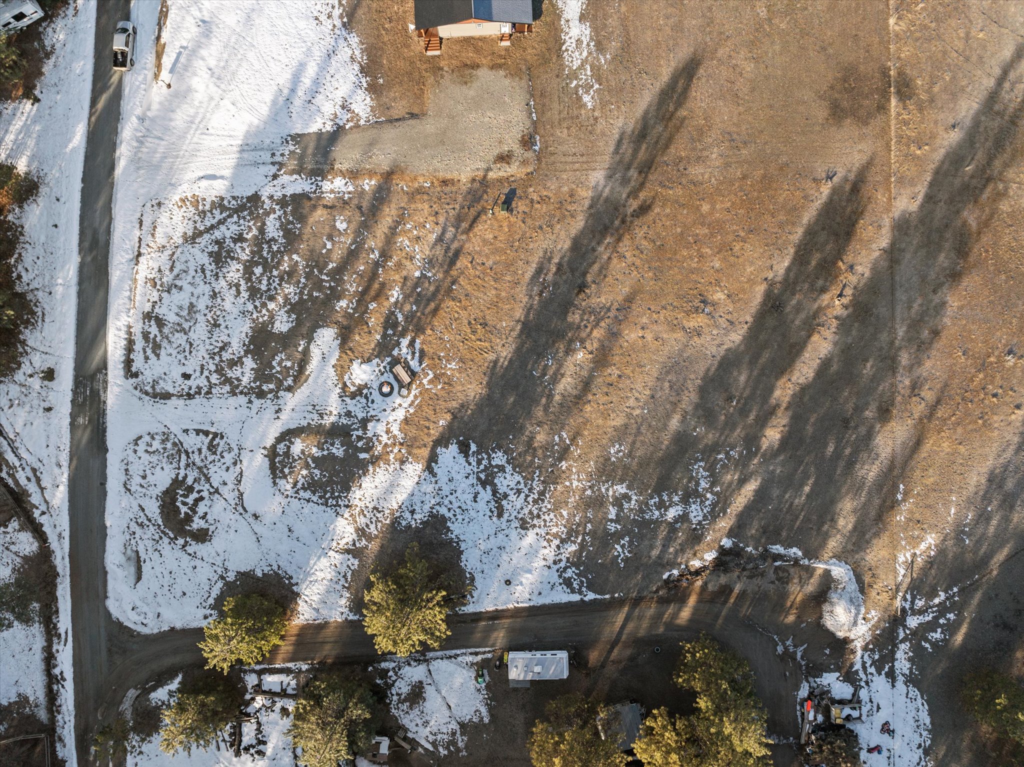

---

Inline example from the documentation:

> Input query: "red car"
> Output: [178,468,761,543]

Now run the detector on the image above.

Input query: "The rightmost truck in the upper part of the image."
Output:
[109,21,135,73]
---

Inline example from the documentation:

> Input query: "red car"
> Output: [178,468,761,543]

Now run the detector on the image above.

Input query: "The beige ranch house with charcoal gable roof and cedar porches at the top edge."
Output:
[414,0,533,63]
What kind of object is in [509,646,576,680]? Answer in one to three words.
vehicle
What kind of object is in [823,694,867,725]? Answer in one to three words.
trailer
